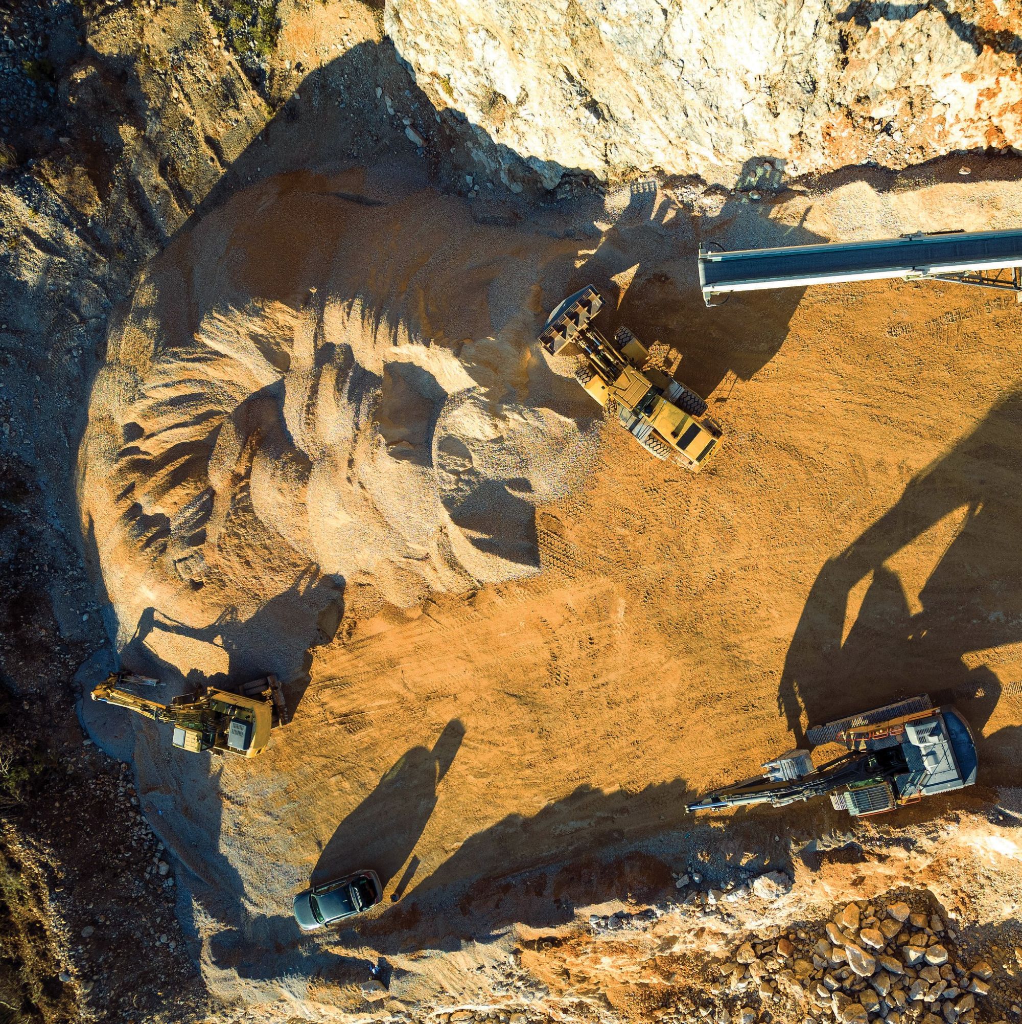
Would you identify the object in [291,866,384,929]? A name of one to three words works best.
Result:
car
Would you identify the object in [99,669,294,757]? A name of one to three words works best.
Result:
work vehicle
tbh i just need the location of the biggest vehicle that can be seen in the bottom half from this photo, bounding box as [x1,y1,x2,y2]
[681,690,979,819]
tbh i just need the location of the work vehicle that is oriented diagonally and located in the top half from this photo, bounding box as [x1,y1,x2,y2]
[533,289,724,476]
